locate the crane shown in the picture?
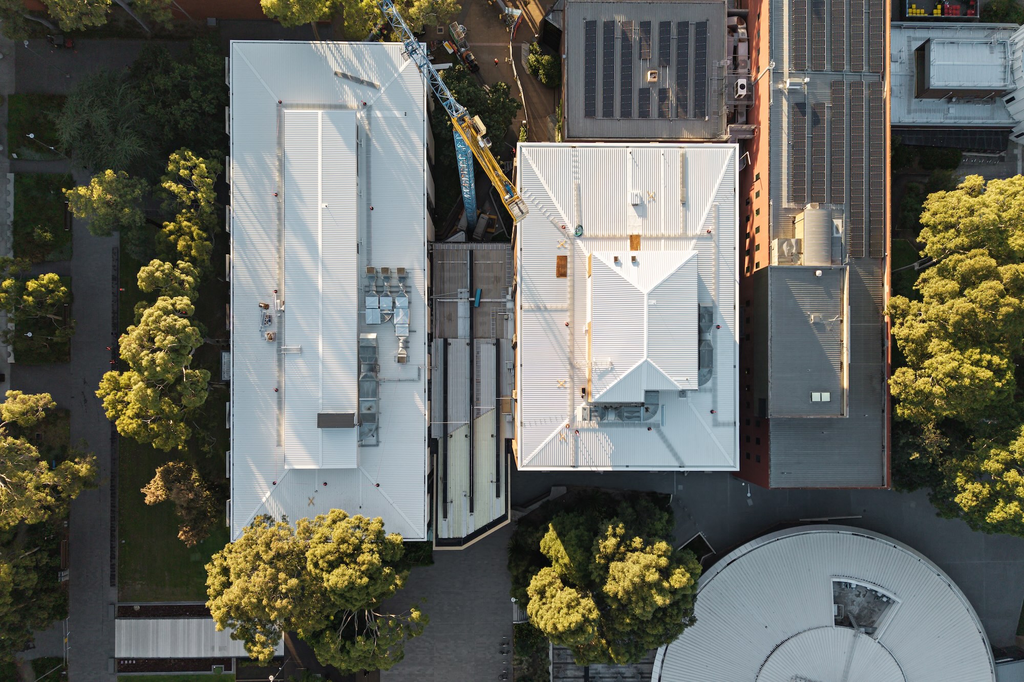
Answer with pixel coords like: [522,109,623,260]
[376,0,532,237]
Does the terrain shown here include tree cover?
Yes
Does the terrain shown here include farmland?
No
